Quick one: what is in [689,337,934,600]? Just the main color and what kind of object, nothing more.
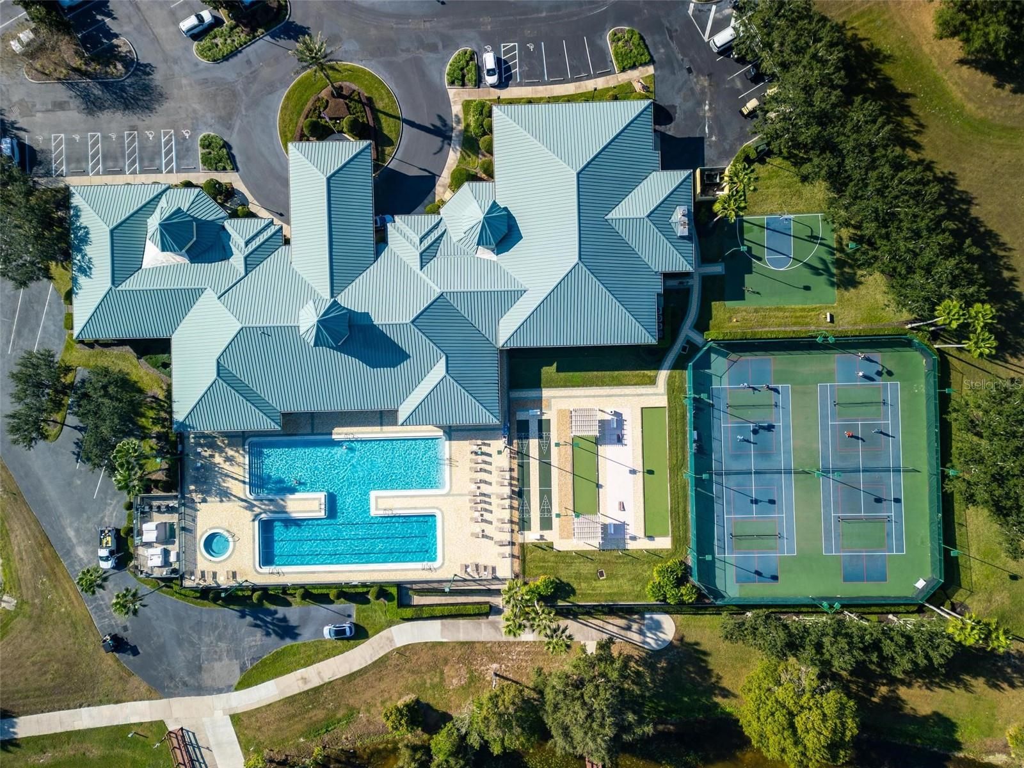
green tennis court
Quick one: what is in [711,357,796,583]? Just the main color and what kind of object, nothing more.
blue tennis court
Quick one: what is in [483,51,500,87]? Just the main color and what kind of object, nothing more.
white car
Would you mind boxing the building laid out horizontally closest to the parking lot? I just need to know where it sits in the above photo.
[69,99,695,432]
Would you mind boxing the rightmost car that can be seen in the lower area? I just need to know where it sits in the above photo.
[323,622,355,640]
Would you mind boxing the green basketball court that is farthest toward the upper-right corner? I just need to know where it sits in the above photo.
[724,214,836,307]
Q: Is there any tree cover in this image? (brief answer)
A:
Yes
